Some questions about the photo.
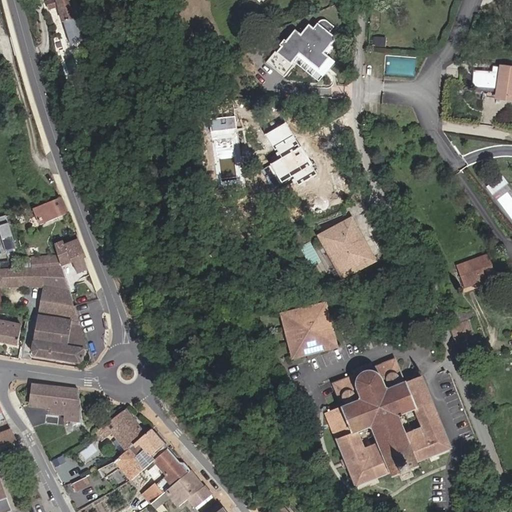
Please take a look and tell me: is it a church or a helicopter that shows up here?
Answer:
church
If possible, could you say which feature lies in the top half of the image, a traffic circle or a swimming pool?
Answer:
swimming pool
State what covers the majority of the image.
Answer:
trees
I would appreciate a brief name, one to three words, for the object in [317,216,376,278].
house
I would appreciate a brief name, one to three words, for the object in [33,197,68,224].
house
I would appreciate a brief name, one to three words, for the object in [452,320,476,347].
shed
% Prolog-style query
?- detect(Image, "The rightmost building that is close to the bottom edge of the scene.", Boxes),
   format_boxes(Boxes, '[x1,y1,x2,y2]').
[325,358,448,487]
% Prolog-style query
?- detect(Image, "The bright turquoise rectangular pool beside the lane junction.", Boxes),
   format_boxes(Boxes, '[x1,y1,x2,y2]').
[384,55,417,78]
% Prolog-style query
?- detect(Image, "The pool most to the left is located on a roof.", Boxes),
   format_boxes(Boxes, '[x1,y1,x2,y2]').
[218,158,237,180]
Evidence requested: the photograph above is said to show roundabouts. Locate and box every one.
[84,340,154,404]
